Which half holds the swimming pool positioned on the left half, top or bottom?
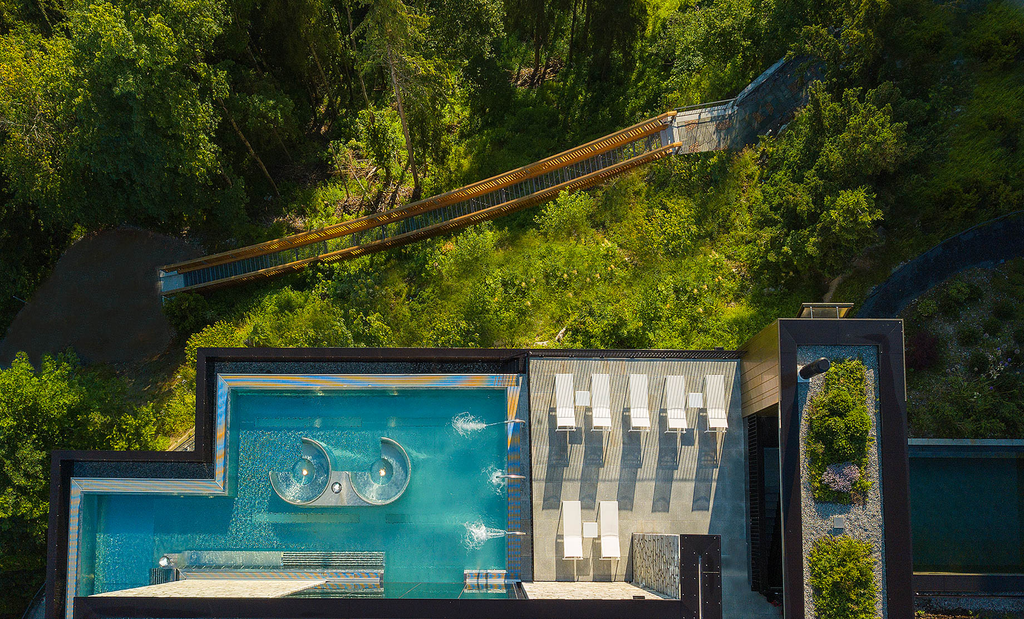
bottom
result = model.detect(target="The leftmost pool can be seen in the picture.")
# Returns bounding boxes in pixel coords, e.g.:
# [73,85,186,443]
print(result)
[63,373,521,619]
